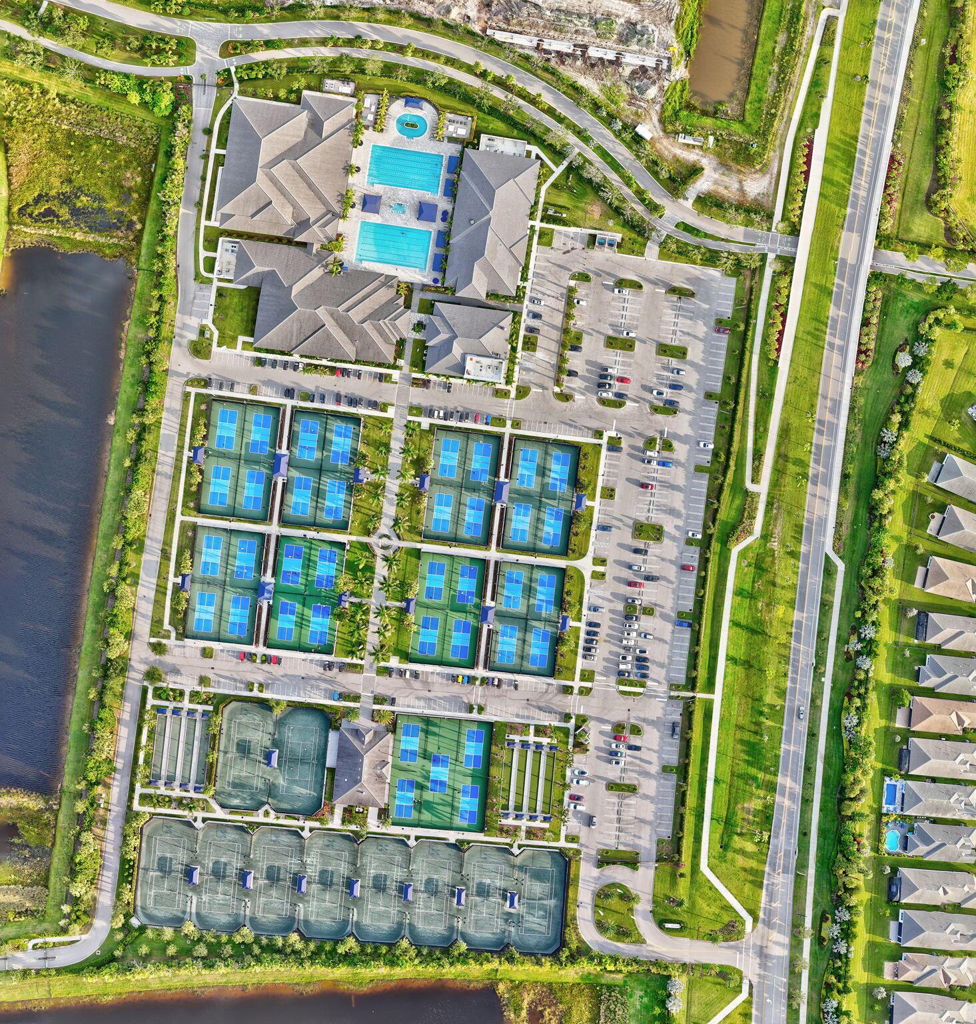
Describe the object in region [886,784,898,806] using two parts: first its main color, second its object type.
blue swimming pool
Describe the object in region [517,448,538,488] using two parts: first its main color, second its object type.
blue sports court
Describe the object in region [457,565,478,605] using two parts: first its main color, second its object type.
blue sports court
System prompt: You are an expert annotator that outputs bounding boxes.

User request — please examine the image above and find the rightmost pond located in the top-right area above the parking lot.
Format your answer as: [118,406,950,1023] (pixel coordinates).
[690,0,748,100]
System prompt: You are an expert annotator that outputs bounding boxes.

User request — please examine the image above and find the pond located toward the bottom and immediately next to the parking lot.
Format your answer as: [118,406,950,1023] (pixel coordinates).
[0,984,500,1024]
